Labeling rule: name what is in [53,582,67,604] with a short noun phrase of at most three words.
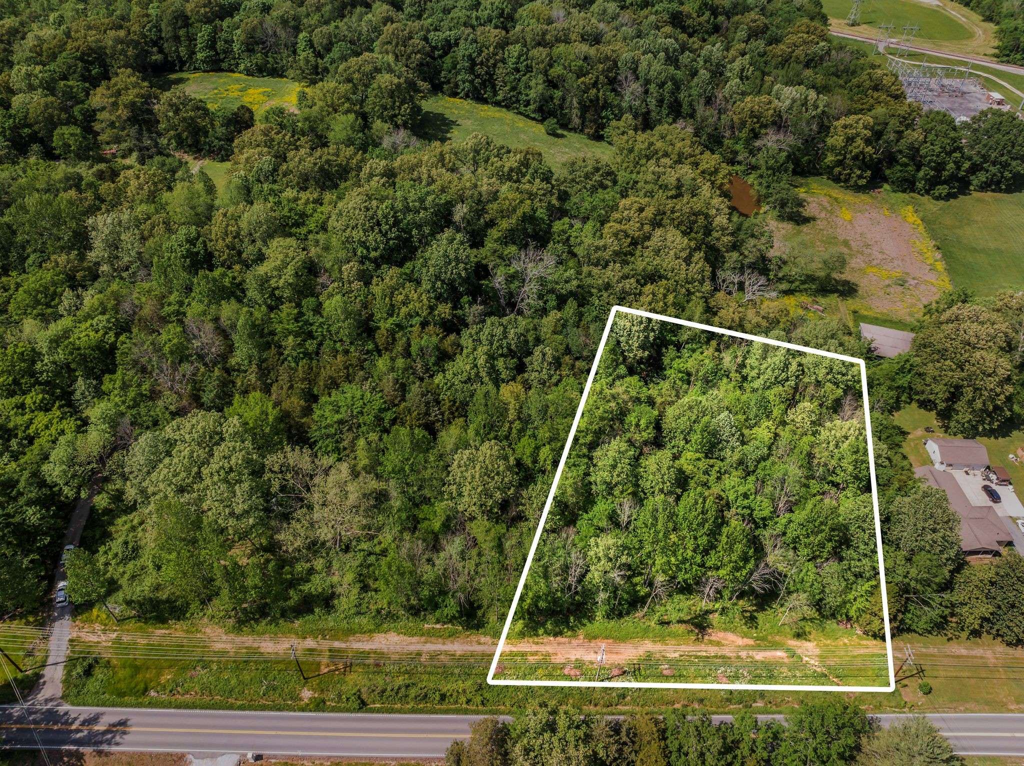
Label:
car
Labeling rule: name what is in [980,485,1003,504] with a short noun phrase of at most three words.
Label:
car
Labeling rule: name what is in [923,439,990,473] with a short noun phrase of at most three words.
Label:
building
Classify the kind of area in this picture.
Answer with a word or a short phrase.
forest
